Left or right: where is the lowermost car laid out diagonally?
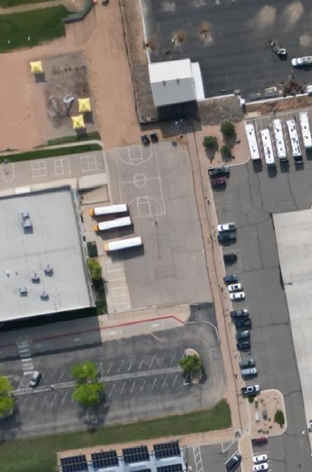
right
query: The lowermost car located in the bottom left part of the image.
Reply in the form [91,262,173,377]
[30,371,44,387]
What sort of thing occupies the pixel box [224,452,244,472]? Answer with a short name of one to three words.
car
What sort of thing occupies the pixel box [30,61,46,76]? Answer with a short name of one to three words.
umbrella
